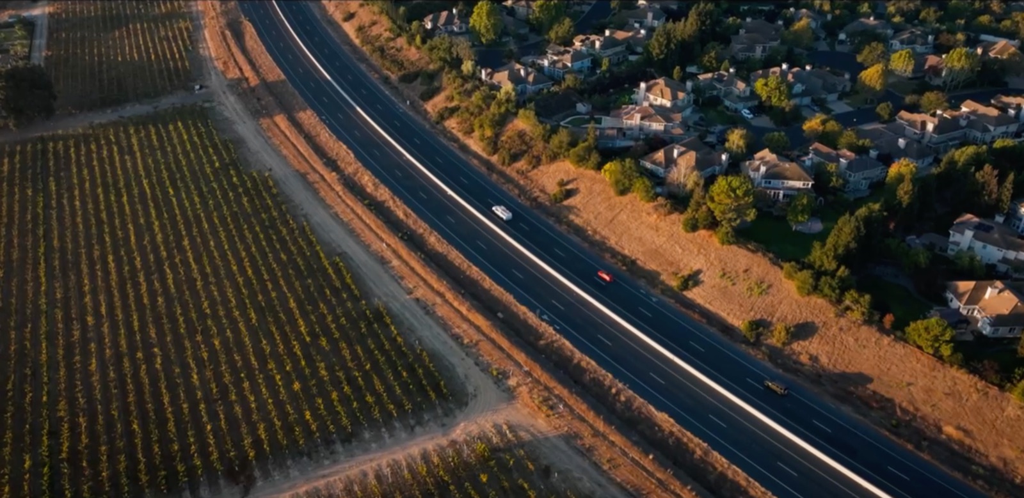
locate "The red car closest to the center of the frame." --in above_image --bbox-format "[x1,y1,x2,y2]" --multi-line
[596,270,615,283]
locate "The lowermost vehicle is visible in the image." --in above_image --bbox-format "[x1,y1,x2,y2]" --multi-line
[762,379,789,398]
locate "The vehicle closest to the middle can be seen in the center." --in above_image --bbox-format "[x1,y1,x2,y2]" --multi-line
[493,207,512,221]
